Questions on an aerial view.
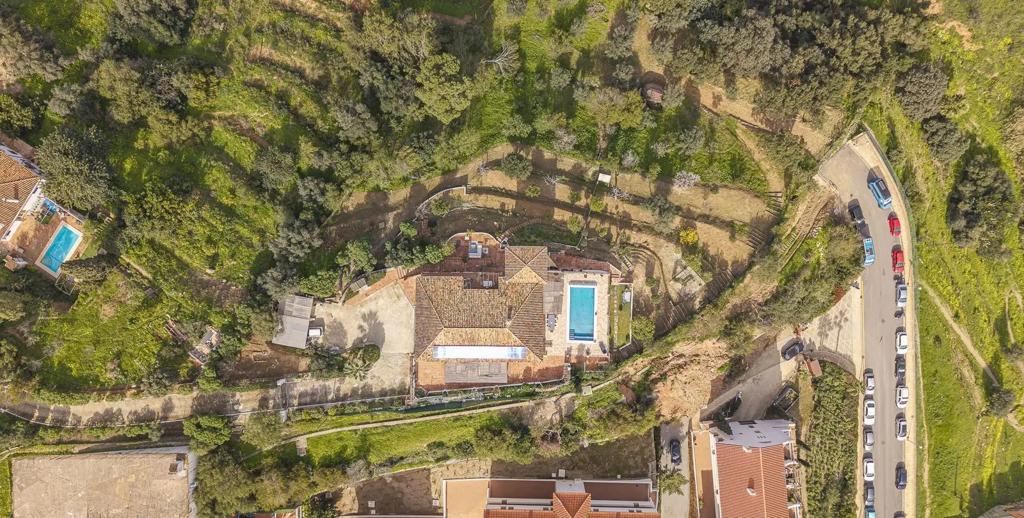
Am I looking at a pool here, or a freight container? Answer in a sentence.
Looking from above, you can make out a pool.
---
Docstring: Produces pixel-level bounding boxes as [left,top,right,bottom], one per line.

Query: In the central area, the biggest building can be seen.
[414,245,548,363]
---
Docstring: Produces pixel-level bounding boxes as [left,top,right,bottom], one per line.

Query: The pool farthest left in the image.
[37,222,84,275]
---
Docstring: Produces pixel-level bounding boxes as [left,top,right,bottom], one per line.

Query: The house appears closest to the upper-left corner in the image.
[0,148,44,250]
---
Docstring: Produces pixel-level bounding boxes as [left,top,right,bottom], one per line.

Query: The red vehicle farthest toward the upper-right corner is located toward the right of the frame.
[888,216,900,236]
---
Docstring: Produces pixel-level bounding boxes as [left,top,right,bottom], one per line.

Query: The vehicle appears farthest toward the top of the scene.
[869,180,889,207]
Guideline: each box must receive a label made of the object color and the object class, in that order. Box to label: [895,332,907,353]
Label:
white vehicle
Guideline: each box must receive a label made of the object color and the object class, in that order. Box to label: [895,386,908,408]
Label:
white vehicle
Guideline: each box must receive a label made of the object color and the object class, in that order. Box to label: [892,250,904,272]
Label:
red vehicle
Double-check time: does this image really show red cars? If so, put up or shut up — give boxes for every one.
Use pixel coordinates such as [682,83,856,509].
[888,216,900,236]
[892,250,904,272]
